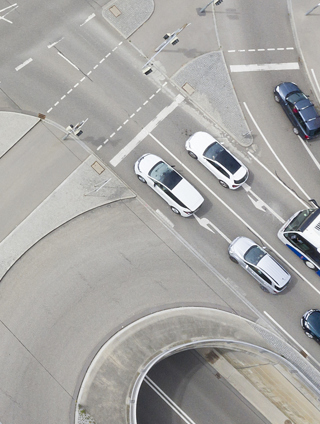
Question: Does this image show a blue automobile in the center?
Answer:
No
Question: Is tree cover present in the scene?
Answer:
No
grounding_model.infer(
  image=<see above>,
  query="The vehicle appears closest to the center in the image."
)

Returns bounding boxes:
[131,160,205,223]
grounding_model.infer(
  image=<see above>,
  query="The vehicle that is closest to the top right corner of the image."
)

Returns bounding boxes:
[272,81,320,146]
